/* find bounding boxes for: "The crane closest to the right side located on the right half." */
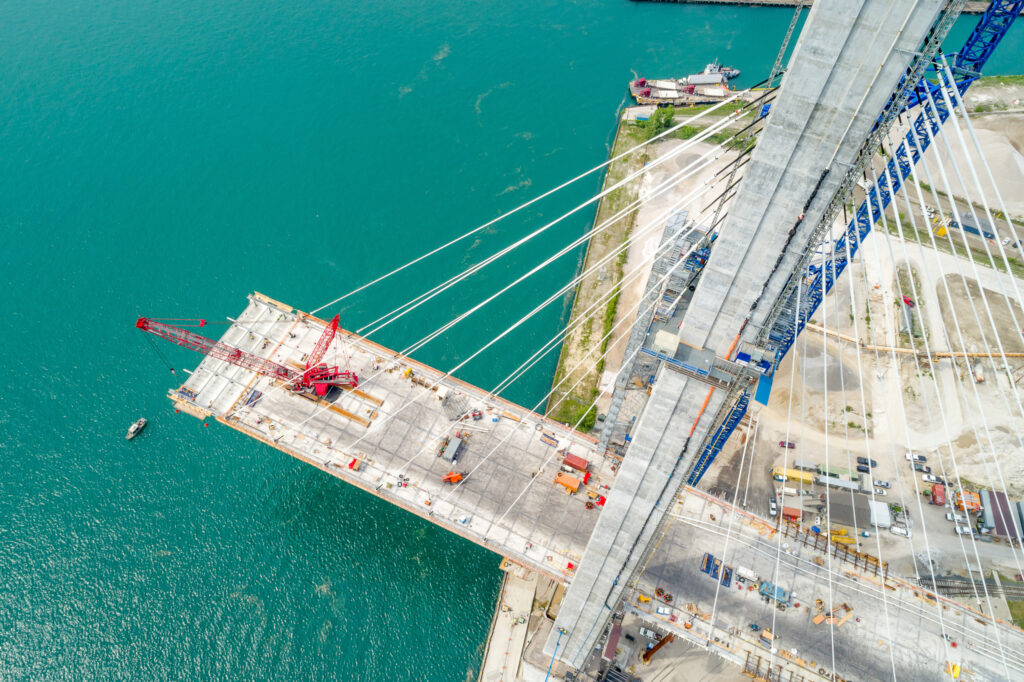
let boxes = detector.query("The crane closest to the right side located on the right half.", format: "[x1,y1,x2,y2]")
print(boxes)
[689,0,1024,486]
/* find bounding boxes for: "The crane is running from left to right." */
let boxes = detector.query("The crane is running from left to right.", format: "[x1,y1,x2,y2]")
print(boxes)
[133,316,351,408]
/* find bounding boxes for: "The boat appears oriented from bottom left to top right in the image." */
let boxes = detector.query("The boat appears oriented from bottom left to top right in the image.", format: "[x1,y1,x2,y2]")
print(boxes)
[129,418,148,440]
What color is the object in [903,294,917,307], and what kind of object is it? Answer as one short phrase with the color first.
red vehicle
